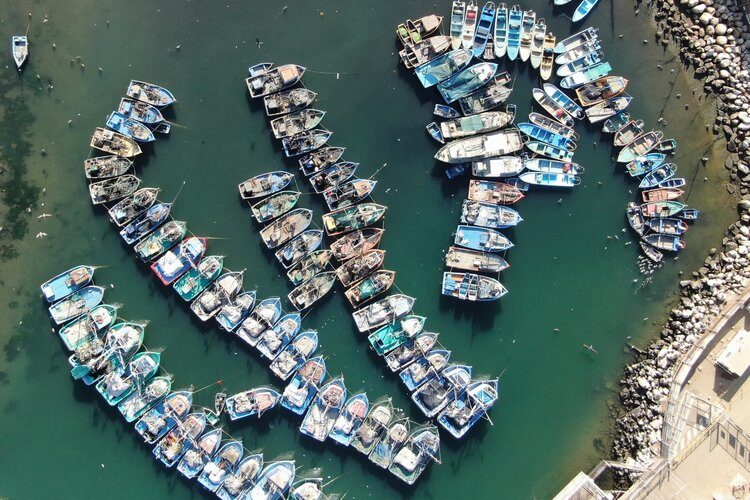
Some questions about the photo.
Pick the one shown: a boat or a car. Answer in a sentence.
There is a boat in the scene.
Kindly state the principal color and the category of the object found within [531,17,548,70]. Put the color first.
white boat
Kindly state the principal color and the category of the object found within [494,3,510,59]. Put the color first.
white boat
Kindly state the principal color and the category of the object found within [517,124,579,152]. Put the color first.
blue boat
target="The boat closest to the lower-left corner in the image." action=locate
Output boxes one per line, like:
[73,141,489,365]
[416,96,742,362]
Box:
[64,365,91,381]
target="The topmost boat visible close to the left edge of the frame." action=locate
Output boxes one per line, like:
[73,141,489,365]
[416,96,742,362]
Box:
[11,36,29,69]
